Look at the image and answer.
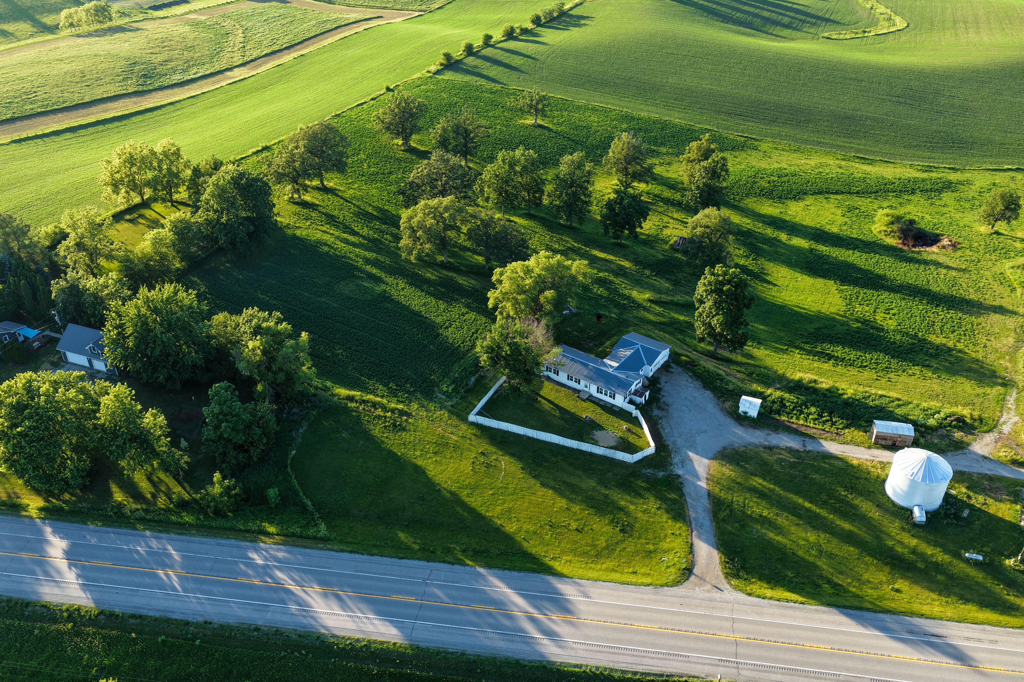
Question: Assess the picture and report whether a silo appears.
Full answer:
Yes, the image includes a silo.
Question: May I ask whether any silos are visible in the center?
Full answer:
No, no silo is visible in the center.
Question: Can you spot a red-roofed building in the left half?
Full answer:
No, no red-roofed building can be made out in the left half.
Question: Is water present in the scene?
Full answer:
No, water can't be seen anywhere here.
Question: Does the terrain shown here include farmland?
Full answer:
Yes, farmland shows up in the scene.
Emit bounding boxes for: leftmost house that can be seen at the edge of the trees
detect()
[0,309,44,342]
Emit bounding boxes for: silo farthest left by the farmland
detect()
[884,448,954,527]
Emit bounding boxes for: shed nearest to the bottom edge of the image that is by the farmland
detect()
[865,424,914,448]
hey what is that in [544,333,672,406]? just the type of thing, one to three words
house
